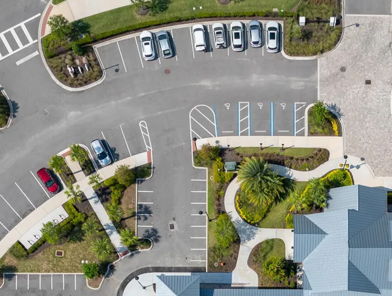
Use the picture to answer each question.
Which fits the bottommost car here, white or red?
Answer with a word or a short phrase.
red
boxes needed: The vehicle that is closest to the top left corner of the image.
[139,31,156,62]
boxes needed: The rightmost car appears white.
[265,22,280,55]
